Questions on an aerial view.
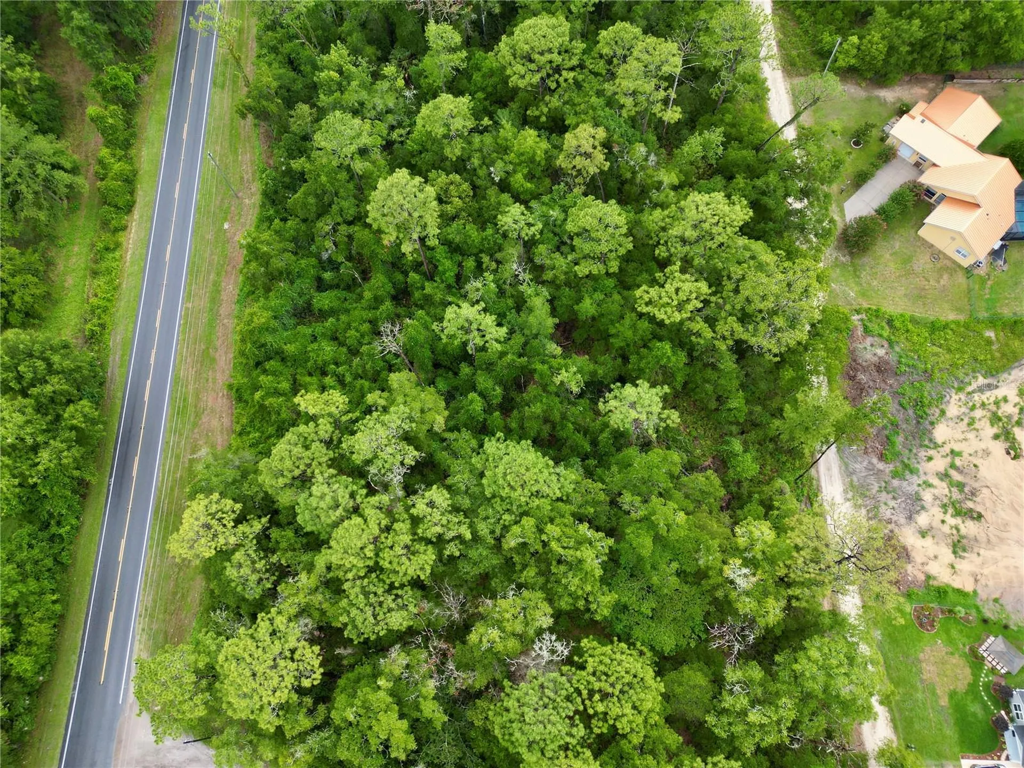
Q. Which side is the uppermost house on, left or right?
right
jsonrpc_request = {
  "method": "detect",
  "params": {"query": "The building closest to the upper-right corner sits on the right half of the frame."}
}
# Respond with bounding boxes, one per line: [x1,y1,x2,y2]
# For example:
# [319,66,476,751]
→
[886,87,1024,267]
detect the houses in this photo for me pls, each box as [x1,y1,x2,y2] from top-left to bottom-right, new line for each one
[1004,689,1024,768]
[886,87,1024,267]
